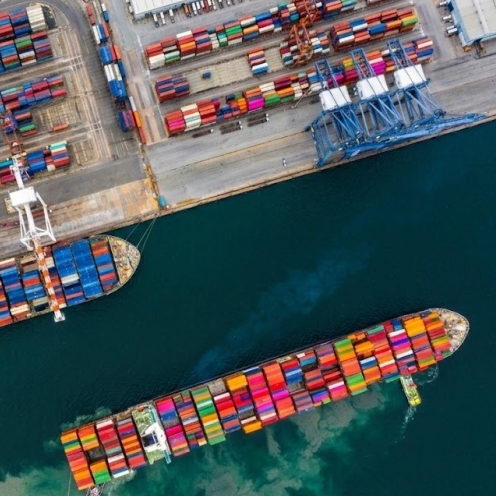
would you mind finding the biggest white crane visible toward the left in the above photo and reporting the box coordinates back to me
[5,158,64,323]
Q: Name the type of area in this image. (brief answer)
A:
port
